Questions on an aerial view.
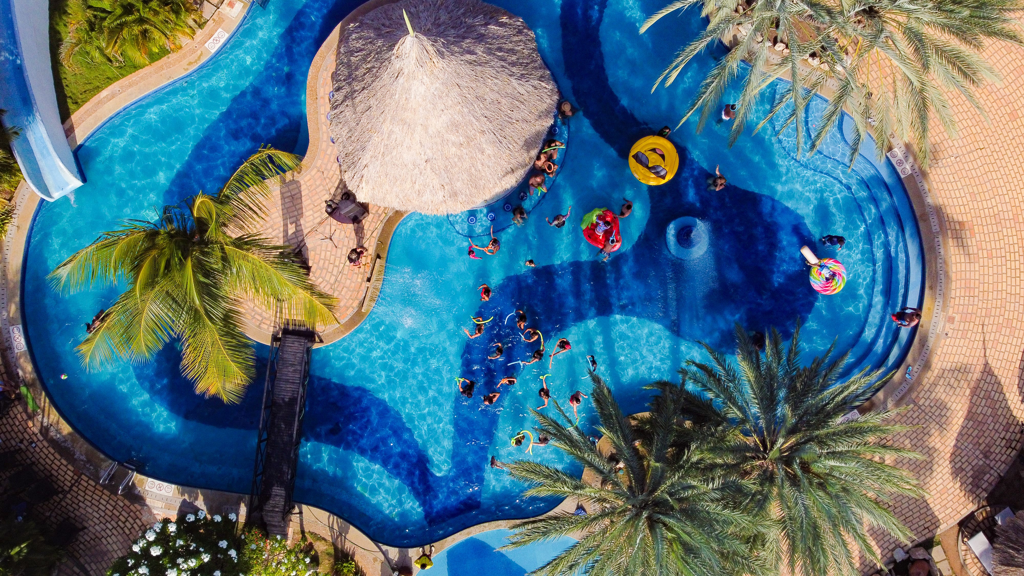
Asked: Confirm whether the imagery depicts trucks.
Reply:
No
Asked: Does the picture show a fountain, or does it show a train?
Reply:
fountain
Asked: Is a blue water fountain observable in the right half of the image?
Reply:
Yes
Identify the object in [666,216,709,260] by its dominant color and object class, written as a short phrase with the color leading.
blue fountain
